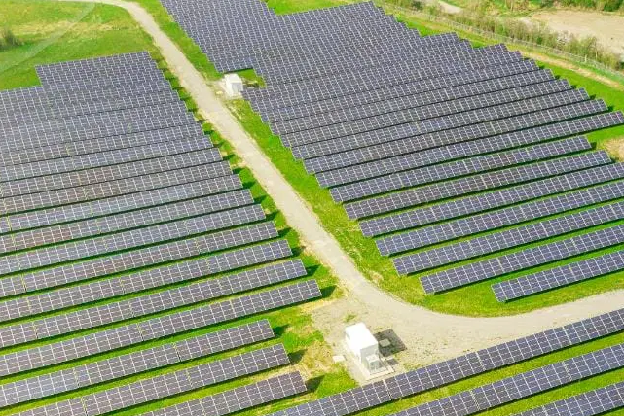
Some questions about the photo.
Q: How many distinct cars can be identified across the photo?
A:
none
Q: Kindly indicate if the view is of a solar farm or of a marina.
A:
solar farm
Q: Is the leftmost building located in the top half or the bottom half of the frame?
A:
top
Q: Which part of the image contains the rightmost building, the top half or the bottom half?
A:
bottom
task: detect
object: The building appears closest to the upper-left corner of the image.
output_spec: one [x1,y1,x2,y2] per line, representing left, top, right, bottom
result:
[224,73,245,96]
